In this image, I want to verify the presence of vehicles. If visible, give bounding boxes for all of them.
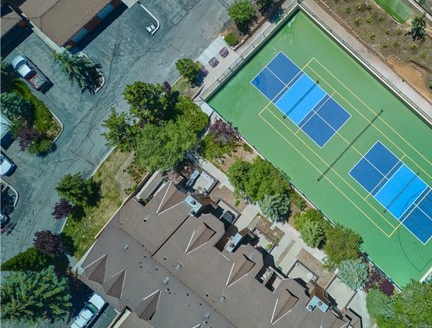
[0,213,14,237]
[0,153,14,177]
[11,56,46,93]
[64,290,109,328]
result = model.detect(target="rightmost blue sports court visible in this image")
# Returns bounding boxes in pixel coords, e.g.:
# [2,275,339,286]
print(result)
[348,140,432,245]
